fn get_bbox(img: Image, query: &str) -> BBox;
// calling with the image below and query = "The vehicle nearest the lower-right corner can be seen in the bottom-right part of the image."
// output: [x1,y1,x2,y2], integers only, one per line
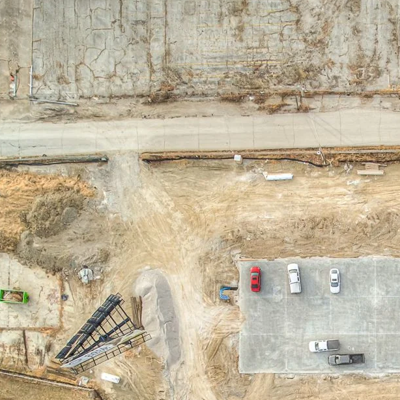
[328,352,364,366]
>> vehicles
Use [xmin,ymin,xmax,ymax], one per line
[246,267,260,293]
[328,268,341,294]
[307,339,341,352]
[328,352,364,366]
[286,261,301,295]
